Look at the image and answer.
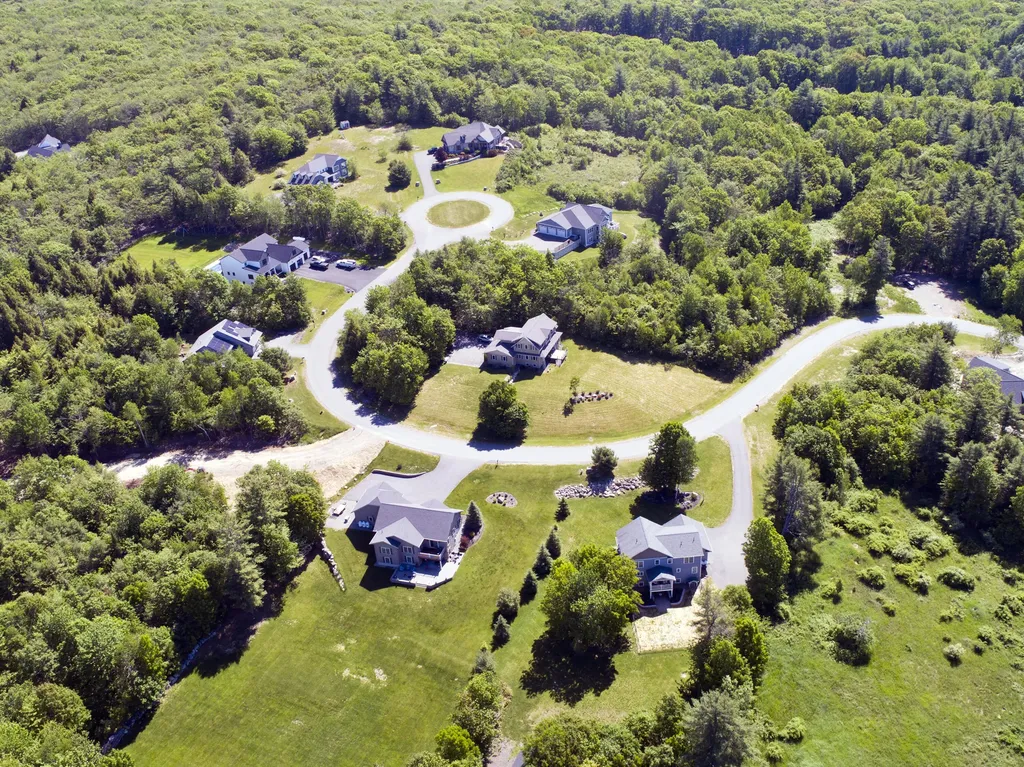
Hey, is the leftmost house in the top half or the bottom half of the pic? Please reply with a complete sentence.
The top half of the photo is where the leftmost house is.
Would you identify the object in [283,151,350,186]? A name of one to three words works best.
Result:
house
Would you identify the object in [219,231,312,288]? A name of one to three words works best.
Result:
house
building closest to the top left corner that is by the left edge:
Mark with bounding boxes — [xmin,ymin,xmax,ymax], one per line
[24,137,75,168]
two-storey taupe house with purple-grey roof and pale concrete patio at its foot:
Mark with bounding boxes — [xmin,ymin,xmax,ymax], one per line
[354,480,460,569]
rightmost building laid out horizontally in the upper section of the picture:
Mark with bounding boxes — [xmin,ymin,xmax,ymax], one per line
[536,202,625,244]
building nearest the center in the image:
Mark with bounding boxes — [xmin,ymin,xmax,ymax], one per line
[483,313,572,375]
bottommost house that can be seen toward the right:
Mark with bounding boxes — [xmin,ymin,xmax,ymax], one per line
[612,512,712,605]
